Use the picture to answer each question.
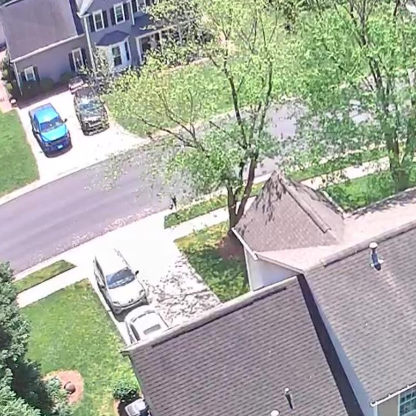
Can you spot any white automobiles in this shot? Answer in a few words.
Yes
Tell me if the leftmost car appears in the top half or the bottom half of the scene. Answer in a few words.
top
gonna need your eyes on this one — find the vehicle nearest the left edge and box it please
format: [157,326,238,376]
[21,93,71,151]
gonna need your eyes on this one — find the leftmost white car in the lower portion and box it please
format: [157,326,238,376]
[89,249,142,310]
